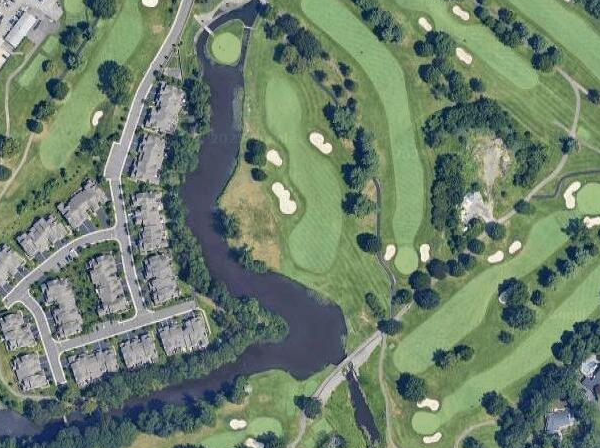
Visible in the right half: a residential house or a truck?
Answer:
residential house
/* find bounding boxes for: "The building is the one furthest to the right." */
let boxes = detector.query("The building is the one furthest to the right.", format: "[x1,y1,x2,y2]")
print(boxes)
[580,372,600,401]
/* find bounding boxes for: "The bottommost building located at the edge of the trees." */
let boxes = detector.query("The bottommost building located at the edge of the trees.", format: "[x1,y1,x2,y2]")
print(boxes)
[544,406,575,432]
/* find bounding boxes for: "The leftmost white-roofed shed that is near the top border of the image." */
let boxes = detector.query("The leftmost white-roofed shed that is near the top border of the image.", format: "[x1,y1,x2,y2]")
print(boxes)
[2,11,38,47]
